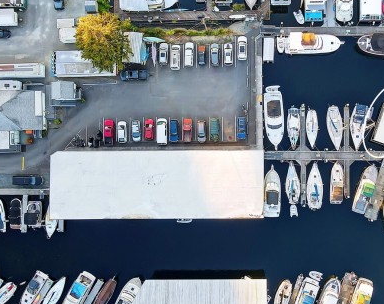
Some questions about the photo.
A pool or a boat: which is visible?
boat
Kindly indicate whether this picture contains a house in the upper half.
Yes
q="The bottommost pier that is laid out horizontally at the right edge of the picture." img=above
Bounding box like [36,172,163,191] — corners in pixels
[263,143,384,167]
